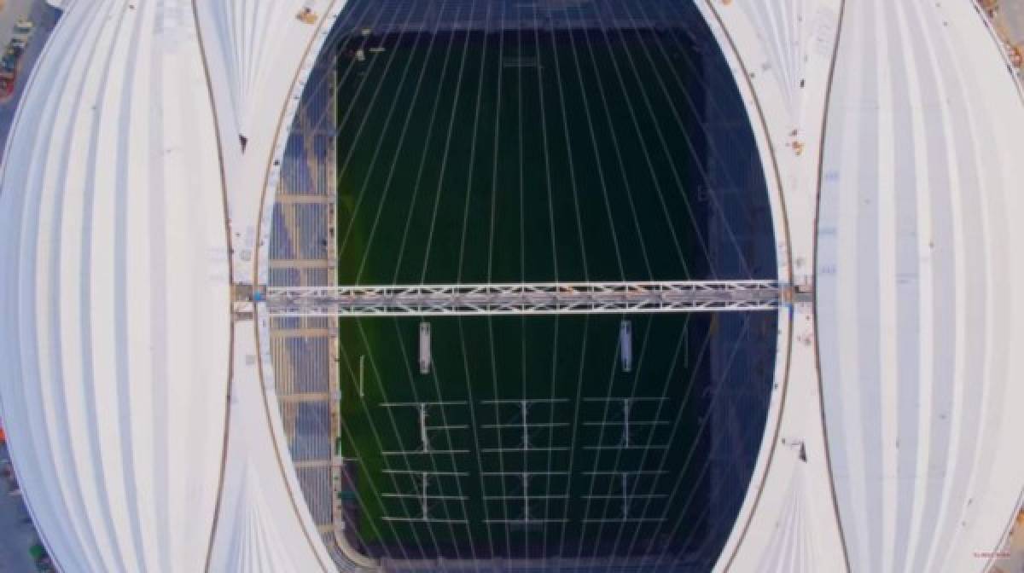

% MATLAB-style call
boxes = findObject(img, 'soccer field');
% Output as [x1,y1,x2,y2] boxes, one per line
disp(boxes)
[338,35,706,551]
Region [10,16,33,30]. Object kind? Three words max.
vehicle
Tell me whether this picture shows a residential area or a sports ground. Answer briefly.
sports ground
